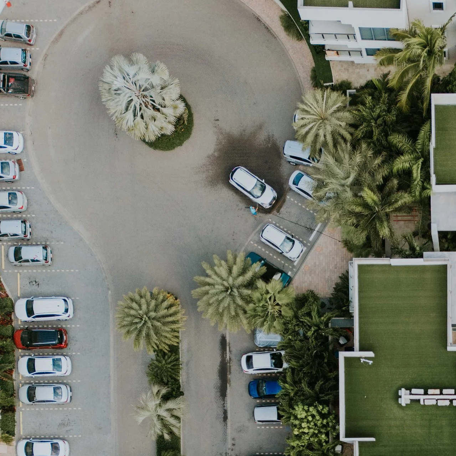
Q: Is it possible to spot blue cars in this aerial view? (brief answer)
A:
Yes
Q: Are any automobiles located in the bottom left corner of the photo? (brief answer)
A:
Yes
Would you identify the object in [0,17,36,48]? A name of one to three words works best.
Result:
car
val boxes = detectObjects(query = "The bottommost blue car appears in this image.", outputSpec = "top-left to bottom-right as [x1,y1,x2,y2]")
[252,376,281,400]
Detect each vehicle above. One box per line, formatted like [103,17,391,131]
[252,376,281,400]
[275,136,330,169]
[256,220,306,263]
[0,132,28,157]
[7,243,55,268]
[0,161,23,184]
[20,381,73,406]
[282,162,332,203]
[17,436,71,456]
[0,73,35,101]
[14,325,70,352]
[0,49,31,73]
[0,17,36,48]
[255,404,280,425]
[15,295,74,323]
[0,191,29,215]
[240,349,280,374]
[241,247,297,290]
[0,219,32,243]
[225,162,280,211]
[19,353,73,378]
